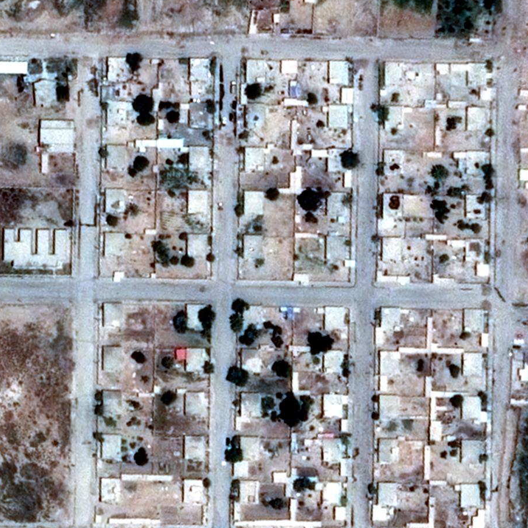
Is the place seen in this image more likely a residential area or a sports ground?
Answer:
residential area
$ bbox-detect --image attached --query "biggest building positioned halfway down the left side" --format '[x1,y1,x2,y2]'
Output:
[4,229,69,268]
